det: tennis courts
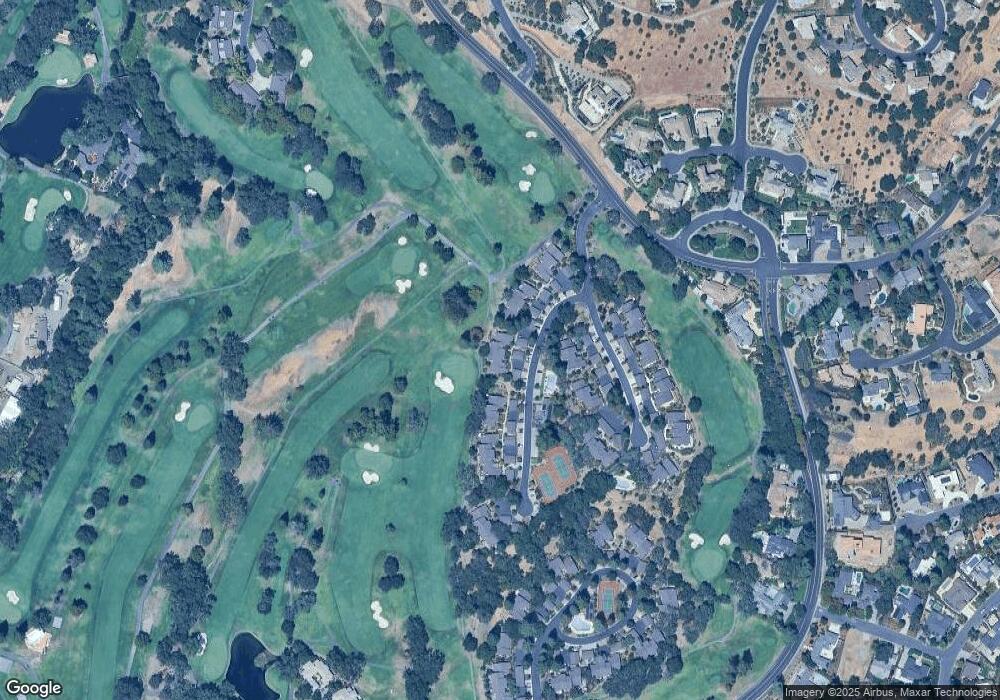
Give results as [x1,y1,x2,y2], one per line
[532,447,577,504]
[597,581,620,617]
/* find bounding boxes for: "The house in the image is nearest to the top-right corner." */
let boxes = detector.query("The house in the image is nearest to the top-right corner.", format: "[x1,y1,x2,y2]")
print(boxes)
[954,2,973,21]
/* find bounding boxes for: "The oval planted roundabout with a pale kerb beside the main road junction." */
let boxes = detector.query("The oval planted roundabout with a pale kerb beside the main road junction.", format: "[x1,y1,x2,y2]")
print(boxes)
[673,204,775,277]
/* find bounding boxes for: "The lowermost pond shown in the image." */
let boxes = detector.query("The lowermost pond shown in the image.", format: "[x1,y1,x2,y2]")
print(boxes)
[226,633,280,700]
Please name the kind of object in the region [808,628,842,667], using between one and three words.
house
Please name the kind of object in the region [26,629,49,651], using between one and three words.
shed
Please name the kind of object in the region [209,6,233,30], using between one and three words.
house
